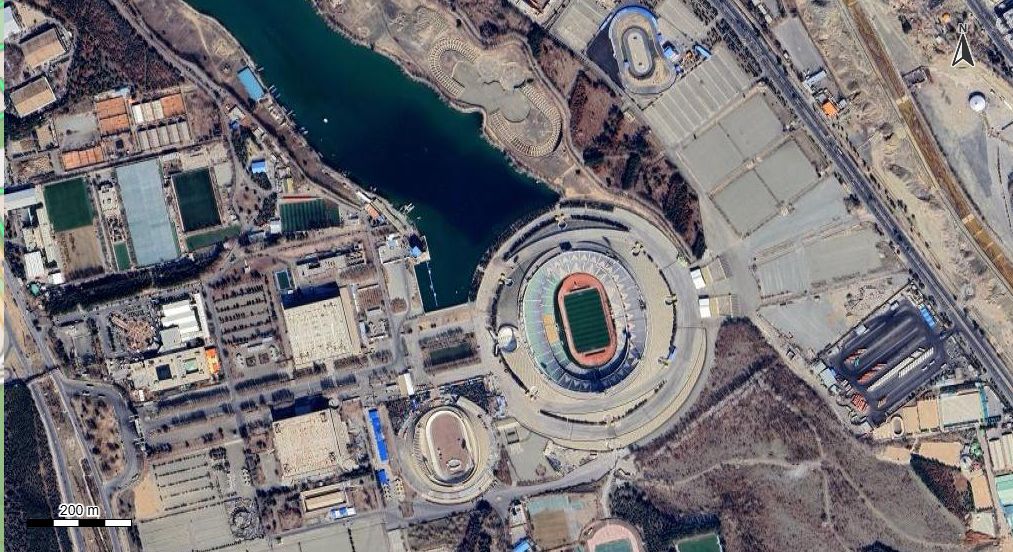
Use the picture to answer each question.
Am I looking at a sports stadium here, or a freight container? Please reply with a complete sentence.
Of the two, only a sports stadium appears.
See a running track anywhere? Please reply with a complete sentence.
Yes, there's a running track here.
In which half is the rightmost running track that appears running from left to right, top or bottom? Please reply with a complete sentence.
You can find the rightmost running track that appears running from left to right in the bottom half.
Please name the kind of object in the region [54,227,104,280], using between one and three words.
sports field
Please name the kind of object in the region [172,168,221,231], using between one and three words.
sports field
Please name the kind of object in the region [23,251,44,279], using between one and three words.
building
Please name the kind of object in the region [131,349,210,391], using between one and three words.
building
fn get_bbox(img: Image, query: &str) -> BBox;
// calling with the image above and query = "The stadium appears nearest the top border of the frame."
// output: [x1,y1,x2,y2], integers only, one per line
[515,245,655,397]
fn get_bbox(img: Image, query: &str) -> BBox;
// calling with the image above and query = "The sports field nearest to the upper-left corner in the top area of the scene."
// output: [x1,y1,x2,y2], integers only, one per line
[45,178,93,231]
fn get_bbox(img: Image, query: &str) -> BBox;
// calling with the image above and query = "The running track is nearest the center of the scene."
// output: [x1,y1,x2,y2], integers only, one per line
[557,273,618,366]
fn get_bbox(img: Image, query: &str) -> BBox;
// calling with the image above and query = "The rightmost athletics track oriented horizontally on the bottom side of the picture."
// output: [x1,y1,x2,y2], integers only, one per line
[573,514,656,552]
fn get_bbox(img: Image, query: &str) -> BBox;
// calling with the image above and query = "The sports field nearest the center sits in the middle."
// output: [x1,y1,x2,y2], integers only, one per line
[564,288,609,352]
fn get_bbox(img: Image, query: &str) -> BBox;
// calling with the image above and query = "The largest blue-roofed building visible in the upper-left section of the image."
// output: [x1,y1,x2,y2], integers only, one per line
[238,67,264,100]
